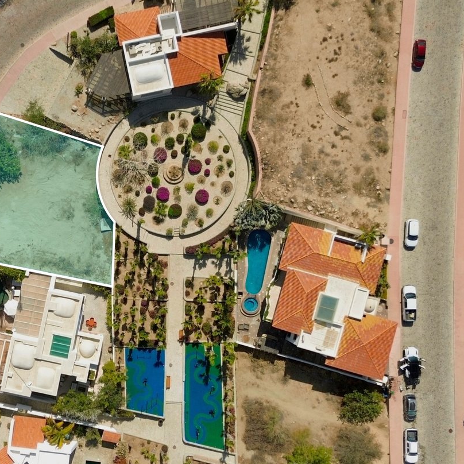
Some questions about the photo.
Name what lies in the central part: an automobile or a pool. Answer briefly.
pool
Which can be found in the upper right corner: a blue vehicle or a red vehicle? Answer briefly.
red vehicle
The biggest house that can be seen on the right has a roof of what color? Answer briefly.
orange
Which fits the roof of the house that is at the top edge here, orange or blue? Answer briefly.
orange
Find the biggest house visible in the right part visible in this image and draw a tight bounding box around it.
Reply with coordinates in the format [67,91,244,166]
[268,222,398,382]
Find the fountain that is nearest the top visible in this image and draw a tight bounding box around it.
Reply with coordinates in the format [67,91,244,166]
[165,161,186,183]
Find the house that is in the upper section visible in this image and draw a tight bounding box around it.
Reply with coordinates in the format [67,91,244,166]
[114,5,237,102]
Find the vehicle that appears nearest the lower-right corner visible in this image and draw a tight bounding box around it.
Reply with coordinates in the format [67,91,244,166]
[403,428,420,464]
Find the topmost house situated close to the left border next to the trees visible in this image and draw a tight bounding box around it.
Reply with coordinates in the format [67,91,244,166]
[0,272,103,397]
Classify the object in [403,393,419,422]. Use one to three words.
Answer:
car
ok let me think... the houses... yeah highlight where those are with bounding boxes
[114,5,237,102]
[268,222,398,382]
[0,409,78,464]
[0,272,103,397]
